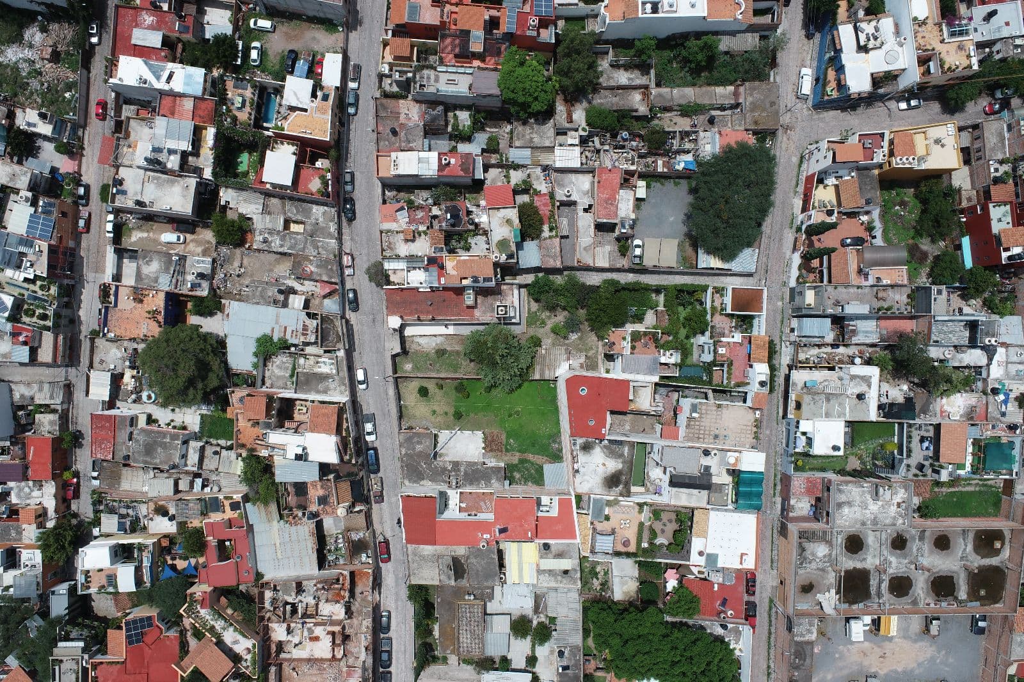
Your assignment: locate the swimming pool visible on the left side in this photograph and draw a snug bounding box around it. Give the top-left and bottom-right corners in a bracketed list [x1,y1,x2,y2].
[260,88,279,127]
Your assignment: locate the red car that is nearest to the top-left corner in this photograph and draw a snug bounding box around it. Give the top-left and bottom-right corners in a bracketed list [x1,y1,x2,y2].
[94,99,108,121]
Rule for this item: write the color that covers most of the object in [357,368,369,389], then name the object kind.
white vehicle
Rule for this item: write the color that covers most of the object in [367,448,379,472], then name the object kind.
blue vehicle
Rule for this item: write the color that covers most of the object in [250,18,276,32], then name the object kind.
white car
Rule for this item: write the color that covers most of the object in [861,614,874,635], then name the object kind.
white vehicle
